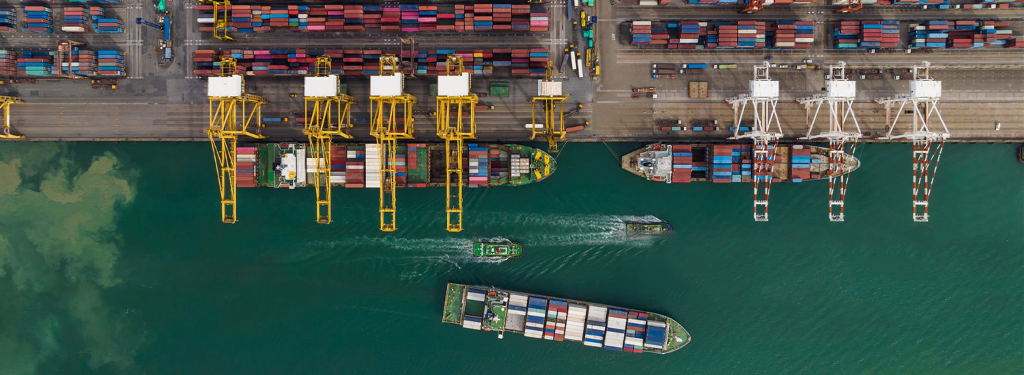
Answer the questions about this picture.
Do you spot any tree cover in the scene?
No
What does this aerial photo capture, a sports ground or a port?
port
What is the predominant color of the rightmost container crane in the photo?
white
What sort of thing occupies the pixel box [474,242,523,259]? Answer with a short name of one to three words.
boat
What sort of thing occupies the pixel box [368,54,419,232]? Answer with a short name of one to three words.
container crane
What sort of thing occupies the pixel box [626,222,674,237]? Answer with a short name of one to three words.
boat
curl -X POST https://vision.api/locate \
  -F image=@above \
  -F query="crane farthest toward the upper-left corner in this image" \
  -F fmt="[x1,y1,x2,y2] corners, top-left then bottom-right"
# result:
[57,35,92,79]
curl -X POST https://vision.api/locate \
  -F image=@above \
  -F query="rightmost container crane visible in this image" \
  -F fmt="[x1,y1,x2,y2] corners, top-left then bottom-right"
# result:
[873,61,946,222]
